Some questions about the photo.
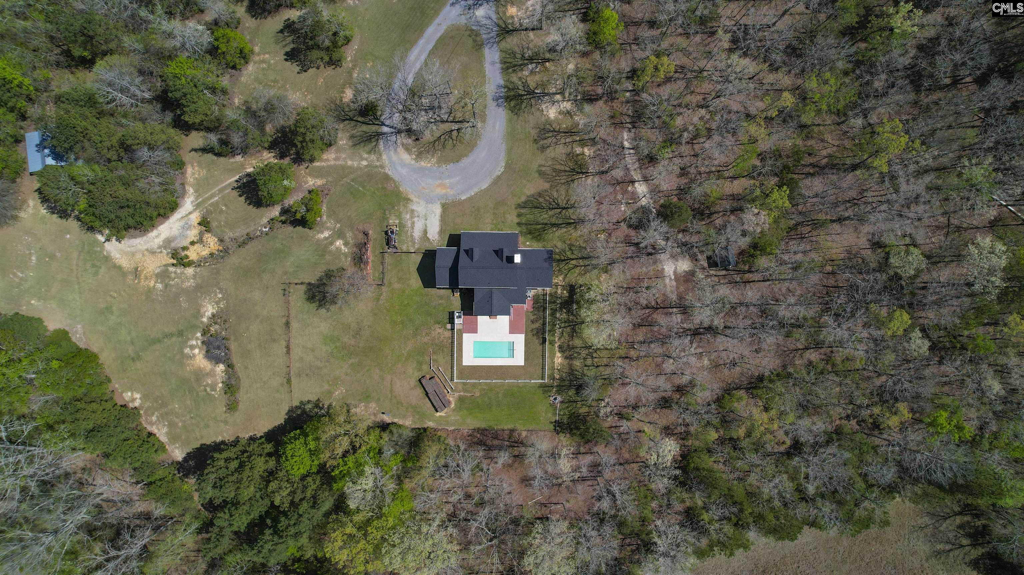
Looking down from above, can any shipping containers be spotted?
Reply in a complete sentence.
No, the scene contains no shipping container.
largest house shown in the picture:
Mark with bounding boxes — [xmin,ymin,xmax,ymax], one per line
[435,231,553,319]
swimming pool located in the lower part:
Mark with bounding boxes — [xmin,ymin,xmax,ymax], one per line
[473,341,514,358]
